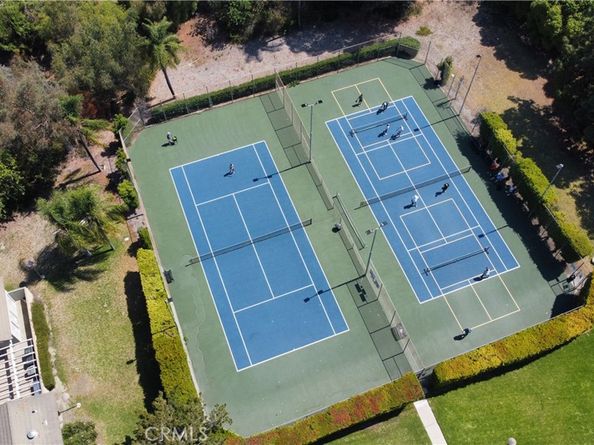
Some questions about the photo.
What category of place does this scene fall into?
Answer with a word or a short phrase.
sports ground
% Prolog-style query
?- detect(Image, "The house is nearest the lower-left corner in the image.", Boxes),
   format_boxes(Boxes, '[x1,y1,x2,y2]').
[0,392,71,445]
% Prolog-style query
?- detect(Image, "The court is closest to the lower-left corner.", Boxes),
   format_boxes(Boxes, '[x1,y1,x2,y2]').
[128,89,413,444]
